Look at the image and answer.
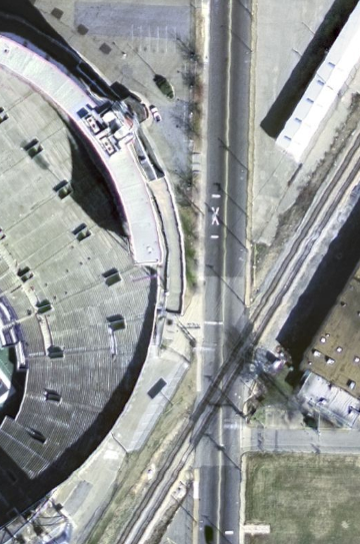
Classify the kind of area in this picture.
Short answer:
sports ground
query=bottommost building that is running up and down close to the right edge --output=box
[297,263,360,402]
